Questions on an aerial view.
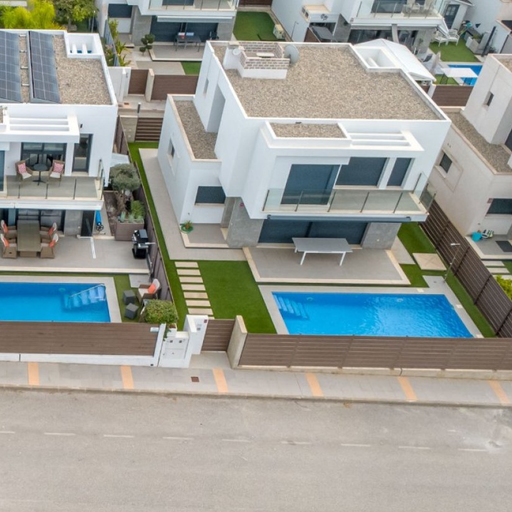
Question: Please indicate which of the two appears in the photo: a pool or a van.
pool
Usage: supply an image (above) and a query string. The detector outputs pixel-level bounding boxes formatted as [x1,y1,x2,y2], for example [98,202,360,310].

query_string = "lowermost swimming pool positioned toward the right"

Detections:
[260,285,471,343]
